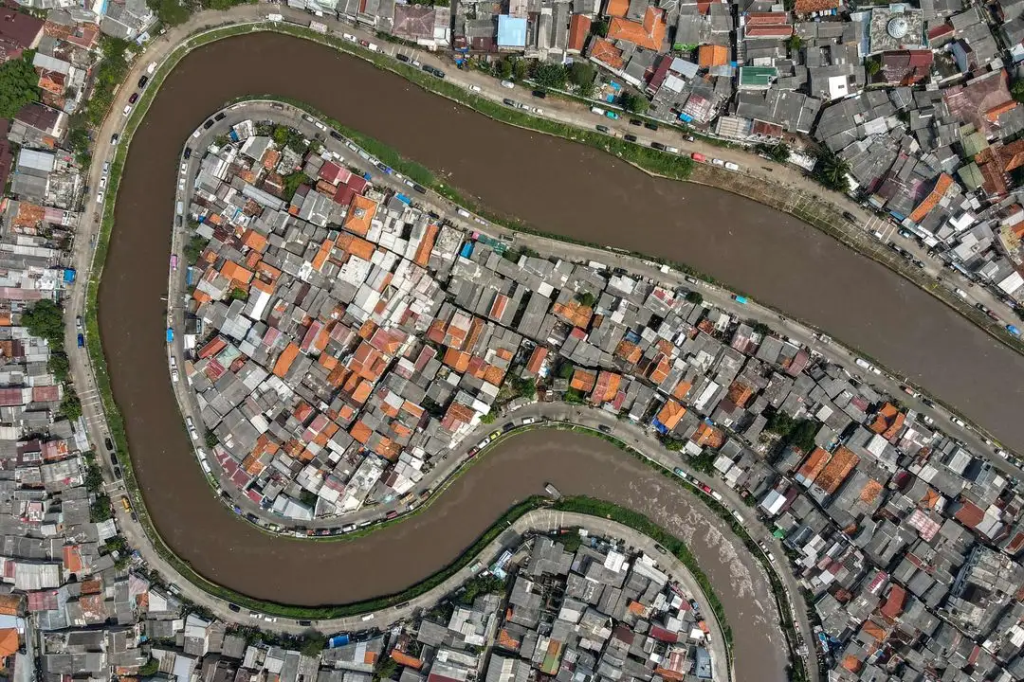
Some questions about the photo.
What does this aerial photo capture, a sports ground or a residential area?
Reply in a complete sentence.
It's a residential area.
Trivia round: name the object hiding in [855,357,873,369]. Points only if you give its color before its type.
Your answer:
white vehicle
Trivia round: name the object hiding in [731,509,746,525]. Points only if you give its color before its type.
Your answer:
white vehicle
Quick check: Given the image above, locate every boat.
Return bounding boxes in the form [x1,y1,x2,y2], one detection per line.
[544,483,560,501]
